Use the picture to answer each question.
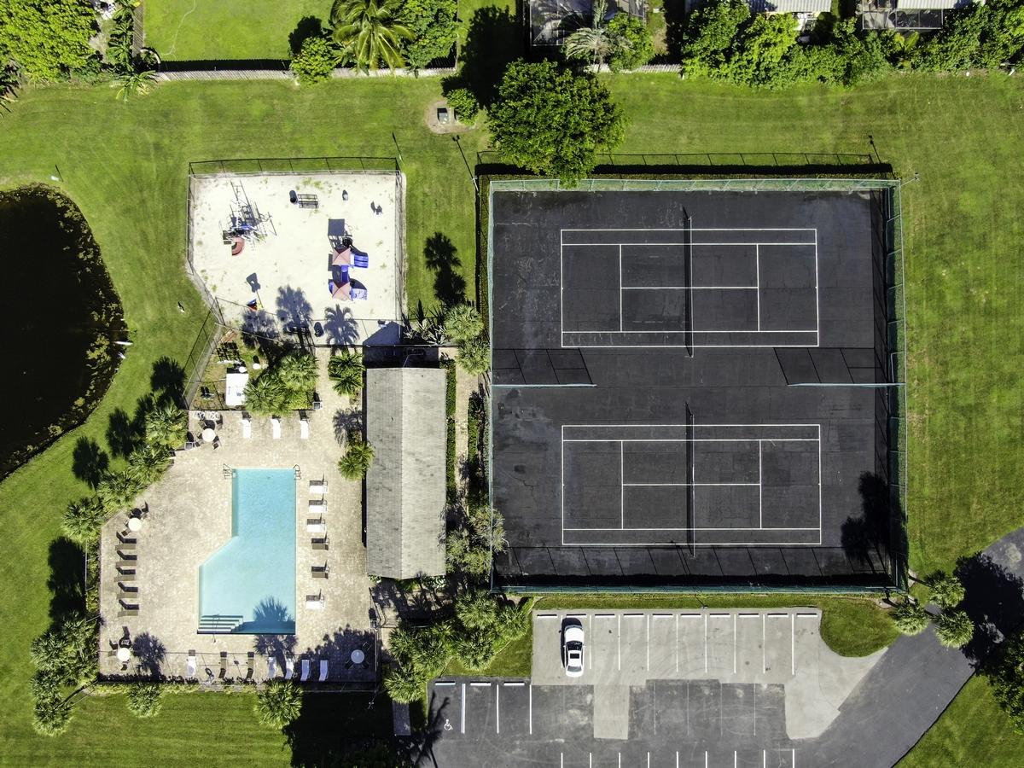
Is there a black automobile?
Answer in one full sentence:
No, the photo shows no black automobile.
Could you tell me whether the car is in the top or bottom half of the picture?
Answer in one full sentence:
You can find the car in the bottom half.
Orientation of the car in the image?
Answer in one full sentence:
The car is laid out up and down.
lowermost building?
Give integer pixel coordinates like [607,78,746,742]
[365,367,448,582]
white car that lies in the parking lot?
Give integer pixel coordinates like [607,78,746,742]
[561,626,586,678]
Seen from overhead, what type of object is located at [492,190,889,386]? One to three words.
tennis court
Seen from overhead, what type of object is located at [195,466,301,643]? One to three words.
swimming pool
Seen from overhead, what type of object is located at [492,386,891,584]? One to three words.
tennis court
